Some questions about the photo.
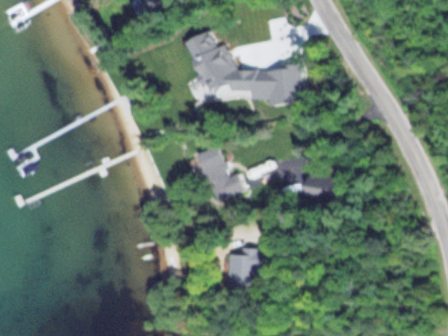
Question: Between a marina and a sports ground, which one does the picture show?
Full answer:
This looks like a marina.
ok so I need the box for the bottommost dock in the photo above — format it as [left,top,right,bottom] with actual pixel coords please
[14,146,140,208]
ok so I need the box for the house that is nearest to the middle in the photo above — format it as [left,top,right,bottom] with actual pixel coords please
[196,148,245,198]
